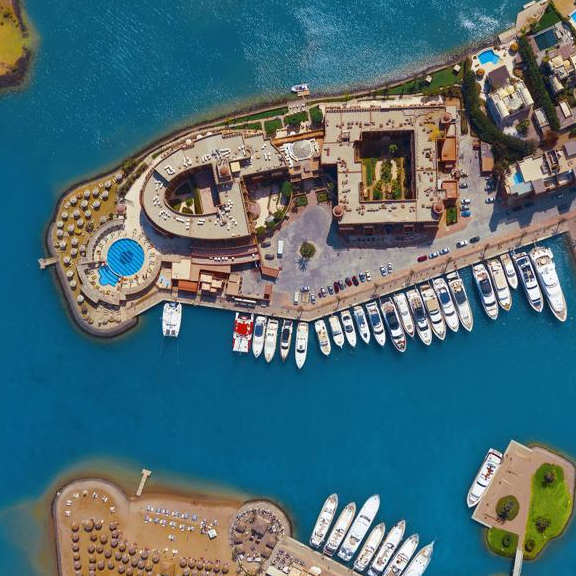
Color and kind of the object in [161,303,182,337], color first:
white boat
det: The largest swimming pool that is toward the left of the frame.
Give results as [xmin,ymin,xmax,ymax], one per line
[106,238,145,277]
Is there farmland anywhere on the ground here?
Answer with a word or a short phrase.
No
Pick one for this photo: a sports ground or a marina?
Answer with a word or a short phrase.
marina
